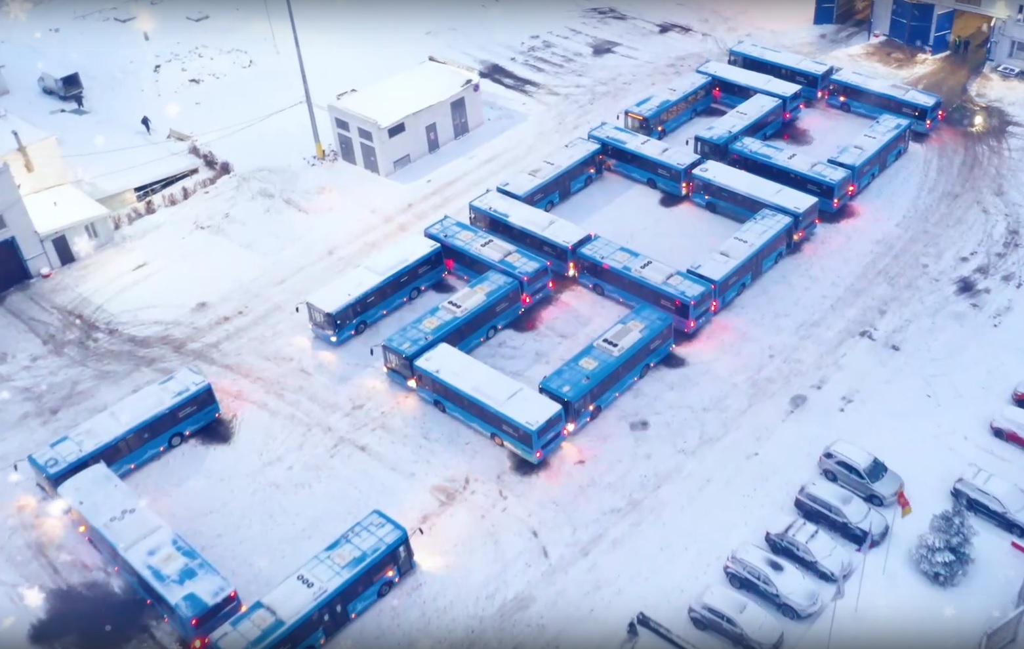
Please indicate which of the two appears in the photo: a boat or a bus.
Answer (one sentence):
Of the two, only a bus appears.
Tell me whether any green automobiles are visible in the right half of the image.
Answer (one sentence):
No, no green automobile can be made out in the right half of the image.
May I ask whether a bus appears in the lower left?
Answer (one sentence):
Yes, the scene does show a bus in the lower left.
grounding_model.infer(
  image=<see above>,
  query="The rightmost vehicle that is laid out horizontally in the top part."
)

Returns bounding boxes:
[820,69,943,129]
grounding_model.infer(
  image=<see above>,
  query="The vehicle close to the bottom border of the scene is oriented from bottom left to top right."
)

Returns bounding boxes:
[210,507,422,649]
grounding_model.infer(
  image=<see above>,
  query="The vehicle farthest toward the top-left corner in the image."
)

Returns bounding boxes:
[36,71,81,105]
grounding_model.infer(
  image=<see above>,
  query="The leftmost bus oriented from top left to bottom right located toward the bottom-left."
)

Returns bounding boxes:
[57,458,243,642]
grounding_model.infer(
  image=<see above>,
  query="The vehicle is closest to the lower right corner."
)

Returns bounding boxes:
[952,466,1024,537]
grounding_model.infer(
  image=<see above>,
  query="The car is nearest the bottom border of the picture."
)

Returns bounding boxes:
[688,579,789,649]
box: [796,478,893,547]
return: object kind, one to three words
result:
car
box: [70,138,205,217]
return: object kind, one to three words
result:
shed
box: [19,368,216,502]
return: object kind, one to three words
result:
bus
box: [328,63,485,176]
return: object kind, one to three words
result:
building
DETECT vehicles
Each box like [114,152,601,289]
[796,478,893,547]
[724,42,834,96]
[725,539,821,614]
[404,340,564,458]
[683,159,818,238]
[57,458,243,642]
[818,439,911,506]
[299,238,443,341]
[952,466,1024,537]
[826,113,918,191]
[820,69,943,129]
[991,400,1024,446]
[618,72,711,138]
[767,512,859,579]
[500,139,609,209]
[582,123,701,192]
[687,94,782,164]
[36,71,81,105]
[419,218,549,306]
[691,61,801,119]
[374,272,519,384]
[569,233,713,329]
[688,579,789,649]
[687,208,801,308]
[720,136,853,209]
[19,368,216,502]
[210,507,422,649]
[464,189,590,272]
[531,306,672,429]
